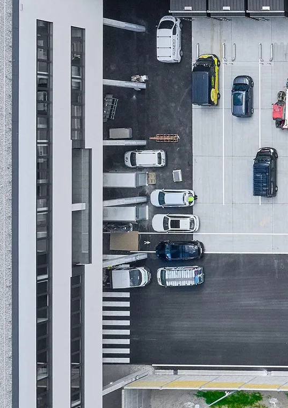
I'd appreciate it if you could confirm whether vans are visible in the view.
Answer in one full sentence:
Yes, a van can be made out from above.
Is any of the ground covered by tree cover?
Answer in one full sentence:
No, the scene doesn't show any tree cover.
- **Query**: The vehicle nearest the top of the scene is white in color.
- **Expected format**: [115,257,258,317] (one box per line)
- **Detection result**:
[157,17,185,64]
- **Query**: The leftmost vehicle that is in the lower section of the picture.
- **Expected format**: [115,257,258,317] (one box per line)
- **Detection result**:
[104,266,154,288]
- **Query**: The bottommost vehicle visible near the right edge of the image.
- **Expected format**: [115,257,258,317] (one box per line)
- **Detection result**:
[252,148,280,199]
